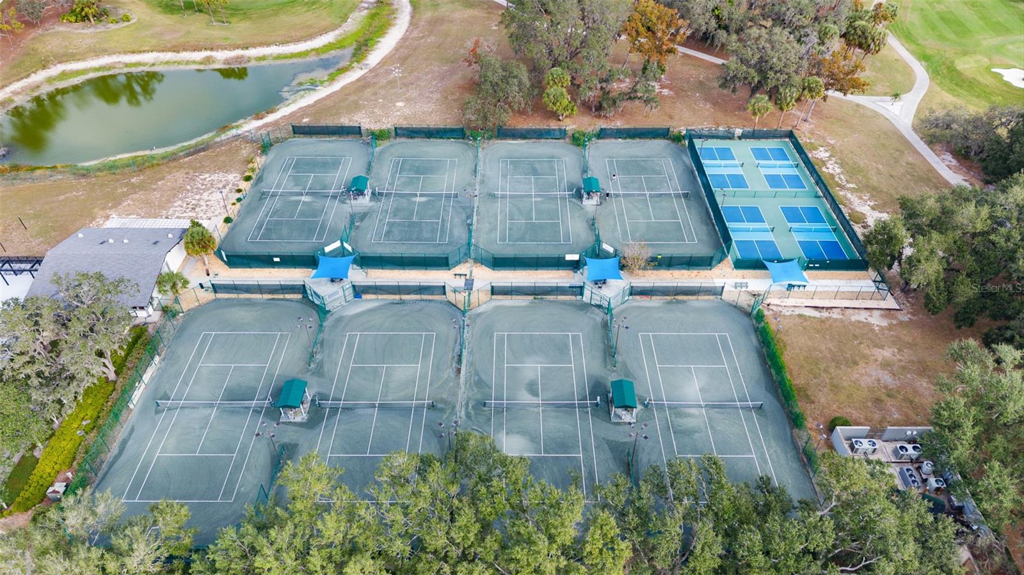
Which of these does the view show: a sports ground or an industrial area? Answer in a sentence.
It's a sports ground.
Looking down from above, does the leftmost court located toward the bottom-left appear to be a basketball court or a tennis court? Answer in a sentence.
What you see as the leftmost court located toward the bottom-left is a tennis court.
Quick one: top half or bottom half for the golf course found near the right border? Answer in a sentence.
It is in the top half that the golf course found near the right border appears.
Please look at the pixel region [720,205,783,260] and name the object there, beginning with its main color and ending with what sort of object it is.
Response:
blue sports court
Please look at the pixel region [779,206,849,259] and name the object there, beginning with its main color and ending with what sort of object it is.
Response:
blue sports court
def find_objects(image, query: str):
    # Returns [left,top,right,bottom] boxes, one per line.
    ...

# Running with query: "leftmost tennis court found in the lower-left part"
[76,300,326,548]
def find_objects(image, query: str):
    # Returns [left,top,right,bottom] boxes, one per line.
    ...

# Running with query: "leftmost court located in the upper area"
[220,138,374,262]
